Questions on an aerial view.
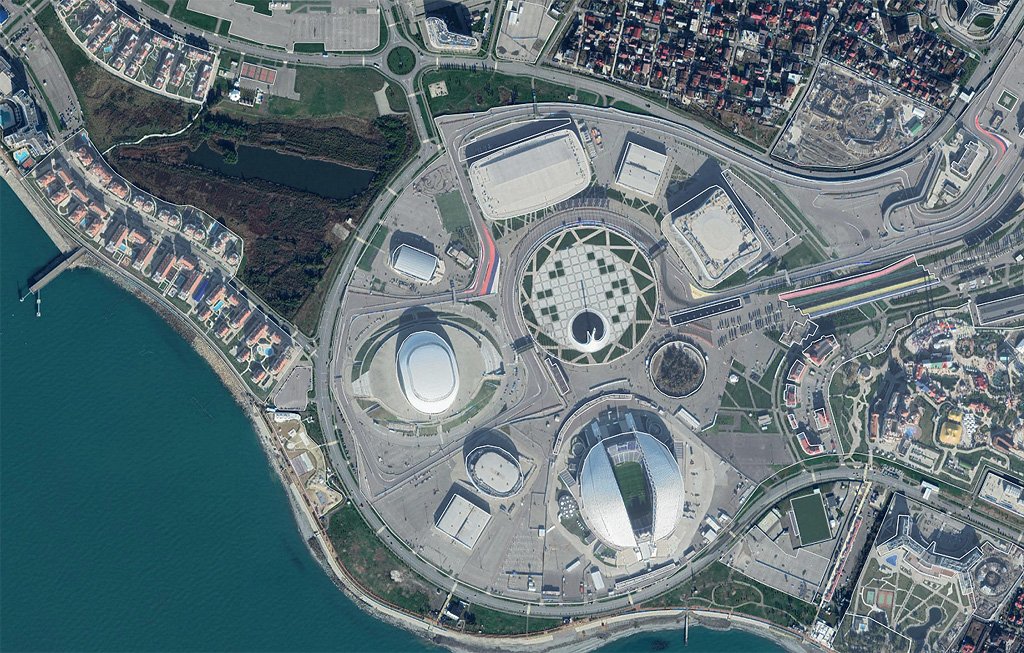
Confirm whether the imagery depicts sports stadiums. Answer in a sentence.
Yes, a sports stadium appears in the view.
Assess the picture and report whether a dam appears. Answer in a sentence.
No, no dam is visible in the scene.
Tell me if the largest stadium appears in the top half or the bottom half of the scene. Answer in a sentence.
The largest stadium is in the bottom half of the image.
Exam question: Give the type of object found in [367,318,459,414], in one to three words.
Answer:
stadium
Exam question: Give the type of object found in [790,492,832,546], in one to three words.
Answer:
sports field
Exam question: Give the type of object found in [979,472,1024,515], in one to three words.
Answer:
building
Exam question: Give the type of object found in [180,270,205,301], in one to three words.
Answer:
house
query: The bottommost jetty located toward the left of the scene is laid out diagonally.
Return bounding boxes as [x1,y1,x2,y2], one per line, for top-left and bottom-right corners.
[20,246,88,316]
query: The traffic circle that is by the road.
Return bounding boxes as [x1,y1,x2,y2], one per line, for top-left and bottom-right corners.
[378,38,426,84]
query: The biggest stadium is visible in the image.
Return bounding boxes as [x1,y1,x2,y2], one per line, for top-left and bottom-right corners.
[560,406,685,561]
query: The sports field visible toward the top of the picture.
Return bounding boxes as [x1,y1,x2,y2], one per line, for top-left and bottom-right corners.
[435,190,476,231]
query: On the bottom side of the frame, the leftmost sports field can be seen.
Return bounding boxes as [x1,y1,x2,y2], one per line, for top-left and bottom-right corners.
[611,461,651,523]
